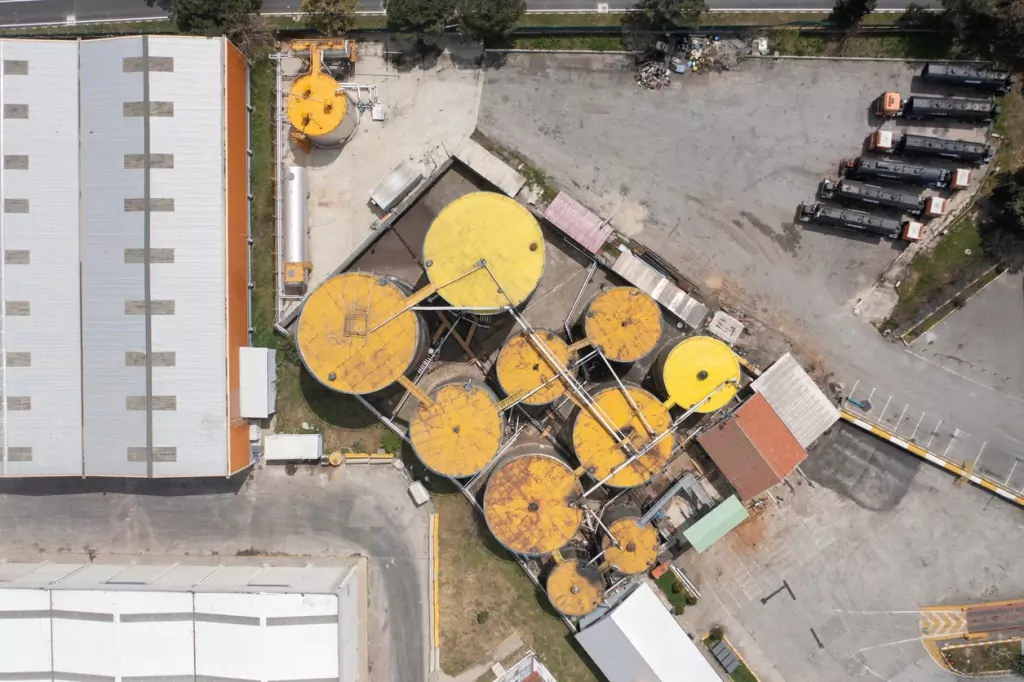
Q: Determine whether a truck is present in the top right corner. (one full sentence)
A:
Yes, there is a truck in the top right corner.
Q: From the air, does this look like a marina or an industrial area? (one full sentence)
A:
It's an industrial area.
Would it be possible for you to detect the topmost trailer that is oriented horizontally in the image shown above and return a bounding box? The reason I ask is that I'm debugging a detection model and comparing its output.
[915,63,1006,92]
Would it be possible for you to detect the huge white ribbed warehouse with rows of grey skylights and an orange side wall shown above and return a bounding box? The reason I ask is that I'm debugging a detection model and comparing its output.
[0,35,255,479]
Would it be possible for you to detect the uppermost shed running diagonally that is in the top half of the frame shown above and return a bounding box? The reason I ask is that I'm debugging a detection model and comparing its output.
[455,139,527,197]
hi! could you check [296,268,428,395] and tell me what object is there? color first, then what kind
orange storage tank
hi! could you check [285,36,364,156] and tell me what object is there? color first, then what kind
orange storage tank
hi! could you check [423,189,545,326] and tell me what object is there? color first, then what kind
yellow storage tank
